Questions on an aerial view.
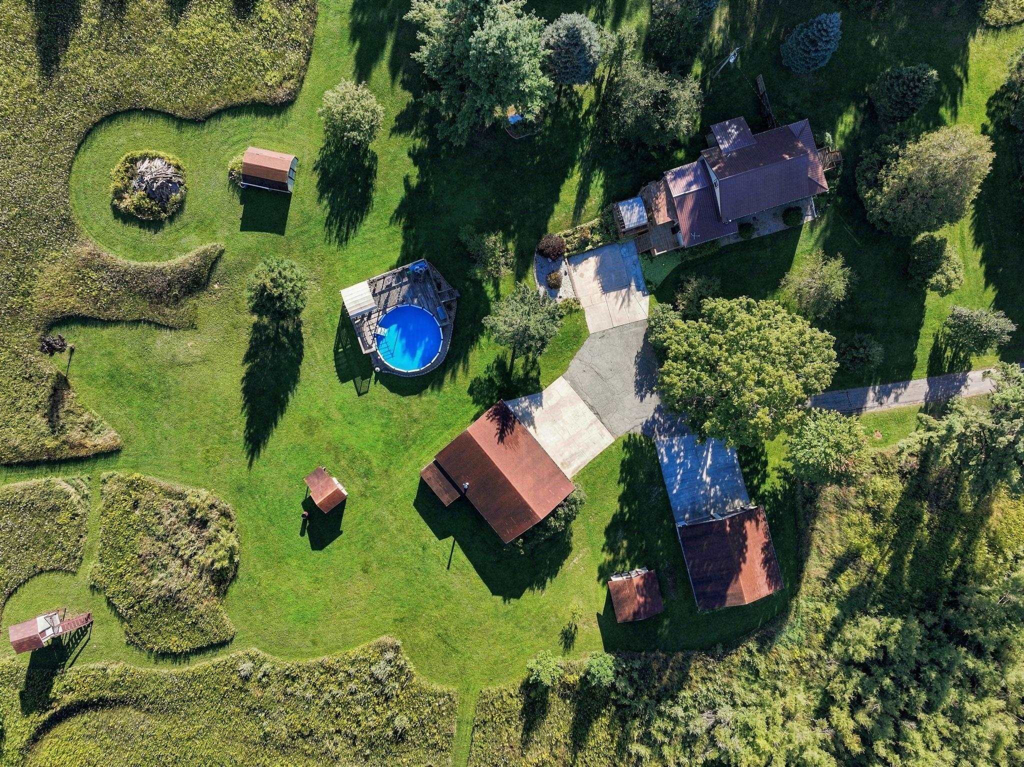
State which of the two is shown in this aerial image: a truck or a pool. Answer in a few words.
pool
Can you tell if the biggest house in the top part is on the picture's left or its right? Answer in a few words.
right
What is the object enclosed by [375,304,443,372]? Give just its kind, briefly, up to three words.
swimming pool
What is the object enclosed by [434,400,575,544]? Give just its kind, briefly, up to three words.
building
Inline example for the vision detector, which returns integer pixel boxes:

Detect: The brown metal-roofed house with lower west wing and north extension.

[661,117,829,252]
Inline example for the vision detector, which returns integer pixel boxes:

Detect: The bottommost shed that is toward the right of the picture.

[607,566,664,622]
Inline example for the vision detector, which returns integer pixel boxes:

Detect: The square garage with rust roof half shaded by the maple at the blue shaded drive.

[676,504,784,610]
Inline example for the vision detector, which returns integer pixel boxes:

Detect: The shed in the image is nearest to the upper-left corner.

[239,147,301,196]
